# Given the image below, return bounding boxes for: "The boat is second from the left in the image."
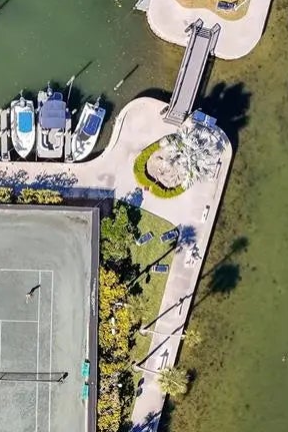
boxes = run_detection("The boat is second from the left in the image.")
[39,92,68,160]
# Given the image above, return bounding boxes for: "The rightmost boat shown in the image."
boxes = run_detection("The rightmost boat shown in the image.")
[74,97,104,160]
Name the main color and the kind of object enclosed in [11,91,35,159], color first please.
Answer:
white boat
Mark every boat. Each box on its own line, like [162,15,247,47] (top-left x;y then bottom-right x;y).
[11,91,35,159]
[39,92,68,160]
[74,97,104,160]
